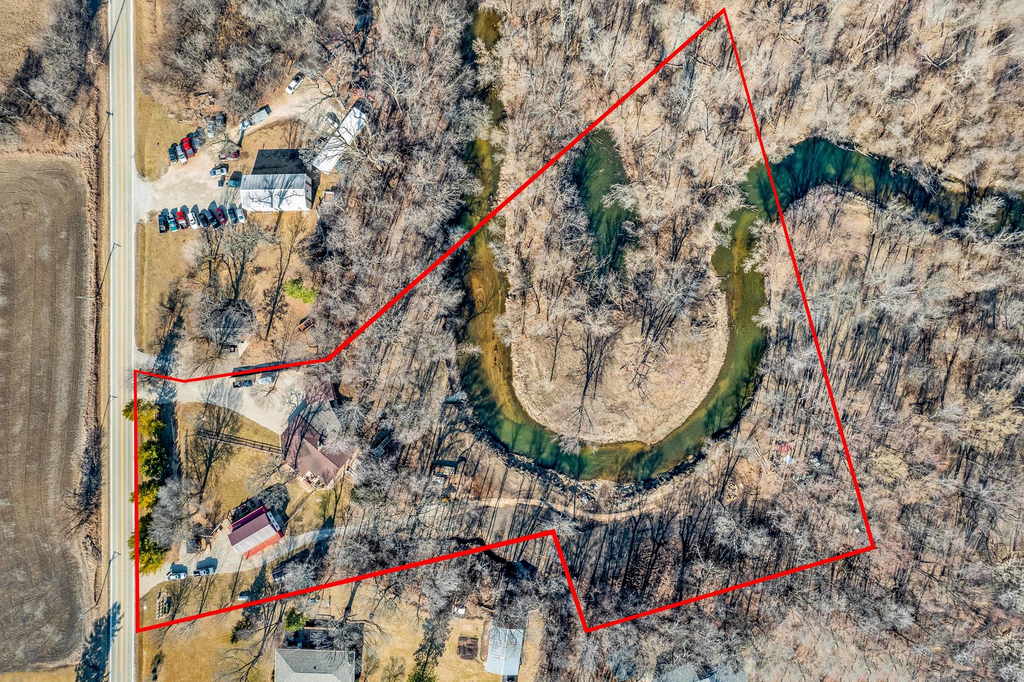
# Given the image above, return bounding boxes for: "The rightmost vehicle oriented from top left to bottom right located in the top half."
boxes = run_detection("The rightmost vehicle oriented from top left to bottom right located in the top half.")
[324,113,340,129]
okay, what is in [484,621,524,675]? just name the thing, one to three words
barn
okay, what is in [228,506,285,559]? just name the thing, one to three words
barn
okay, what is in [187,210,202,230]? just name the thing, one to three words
car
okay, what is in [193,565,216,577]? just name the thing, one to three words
vehicle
